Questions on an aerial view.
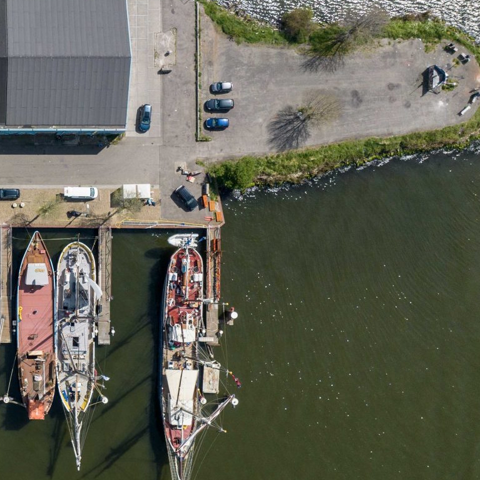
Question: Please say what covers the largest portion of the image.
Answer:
water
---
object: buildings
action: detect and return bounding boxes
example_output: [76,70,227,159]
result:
[421,65,462,100]
[0,0,134,135]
